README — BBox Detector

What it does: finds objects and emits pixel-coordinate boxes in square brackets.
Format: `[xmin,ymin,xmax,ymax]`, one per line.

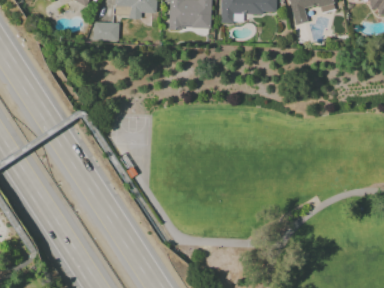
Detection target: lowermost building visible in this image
[95,22,120,42]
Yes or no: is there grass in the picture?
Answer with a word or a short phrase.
Yes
